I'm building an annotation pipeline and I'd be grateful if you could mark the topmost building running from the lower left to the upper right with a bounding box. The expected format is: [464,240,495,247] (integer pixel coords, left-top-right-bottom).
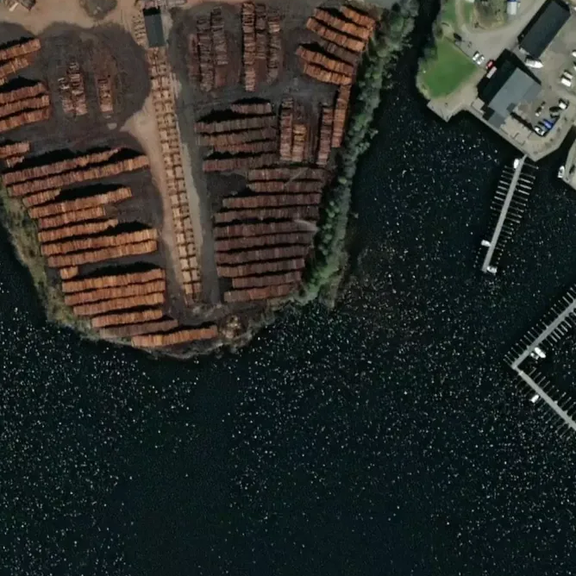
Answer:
[520,2,571,58]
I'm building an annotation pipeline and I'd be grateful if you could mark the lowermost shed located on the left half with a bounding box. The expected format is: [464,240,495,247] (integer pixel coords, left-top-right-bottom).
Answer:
[143,13,164,47]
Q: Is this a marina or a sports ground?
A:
marina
